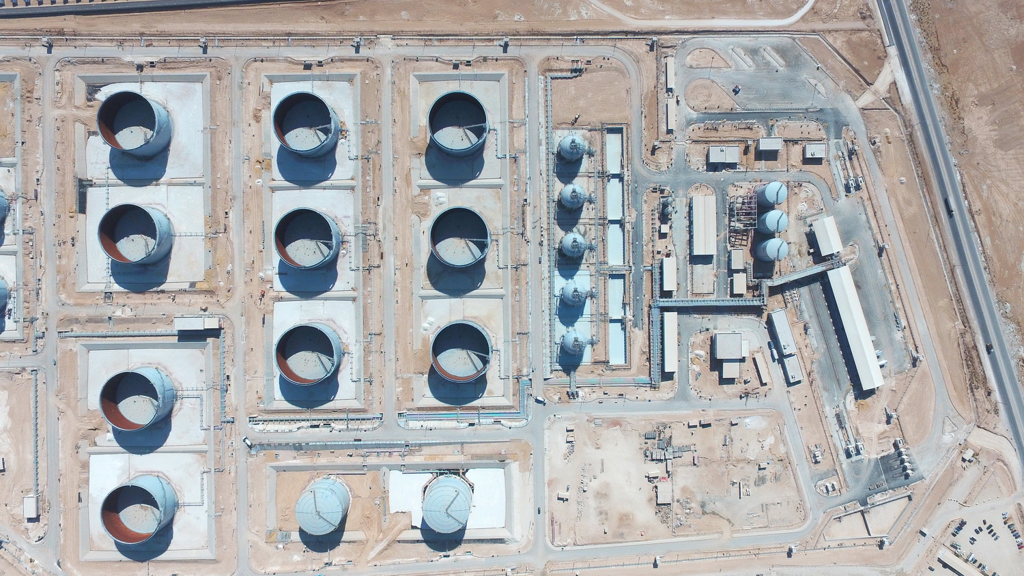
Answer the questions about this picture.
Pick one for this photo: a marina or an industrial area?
industrial area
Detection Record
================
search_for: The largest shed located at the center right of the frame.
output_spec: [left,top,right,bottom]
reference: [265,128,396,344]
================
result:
[822,265,884,390]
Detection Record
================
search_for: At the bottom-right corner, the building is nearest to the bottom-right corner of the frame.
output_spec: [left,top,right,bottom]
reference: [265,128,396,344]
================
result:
[937,548,988,576]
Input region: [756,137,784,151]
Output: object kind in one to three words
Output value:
building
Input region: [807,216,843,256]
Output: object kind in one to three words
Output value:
shed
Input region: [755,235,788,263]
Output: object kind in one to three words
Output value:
storage tank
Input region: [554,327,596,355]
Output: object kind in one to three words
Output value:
storage tank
